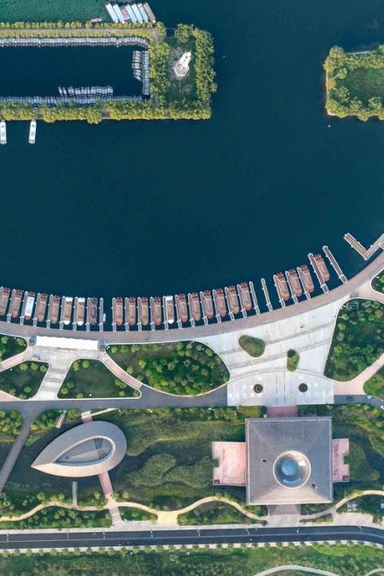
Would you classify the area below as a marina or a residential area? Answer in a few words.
marina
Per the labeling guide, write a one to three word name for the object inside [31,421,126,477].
building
